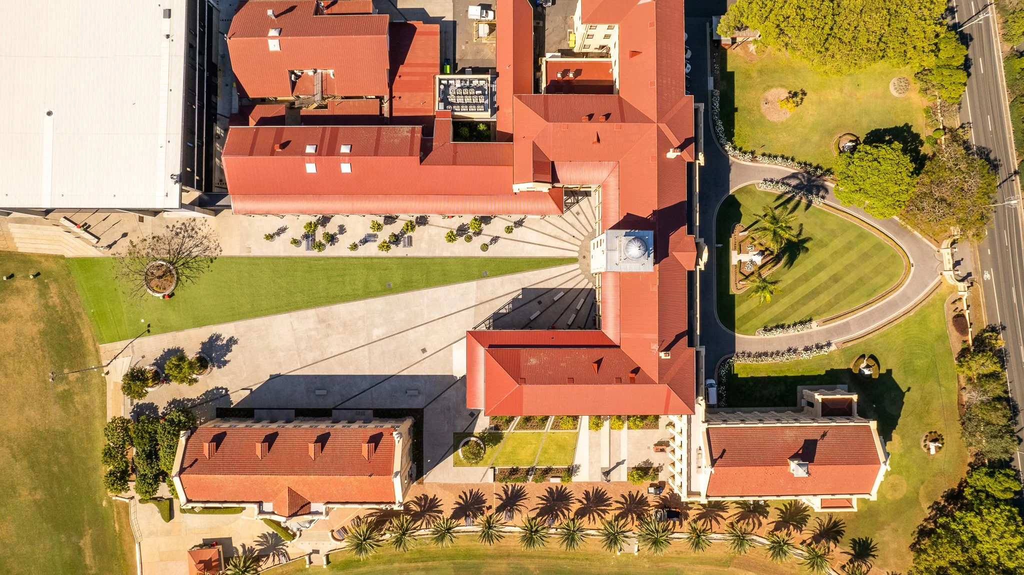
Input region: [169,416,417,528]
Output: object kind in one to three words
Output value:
building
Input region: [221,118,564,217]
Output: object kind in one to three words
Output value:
building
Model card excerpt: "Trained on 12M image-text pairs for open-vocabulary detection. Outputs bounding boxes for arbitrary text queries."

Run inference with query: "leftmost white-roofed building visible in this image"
[0,0,217,218]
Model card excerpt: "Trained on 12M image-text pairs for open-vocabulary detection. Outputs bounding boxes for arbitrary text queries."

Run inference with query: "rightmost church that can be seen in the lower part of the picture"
[696,385,895,513]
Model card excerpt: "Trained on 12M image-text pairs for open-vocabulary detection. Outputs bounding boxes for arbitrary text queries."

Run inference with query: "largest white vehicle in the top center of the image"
[467,5,494,20]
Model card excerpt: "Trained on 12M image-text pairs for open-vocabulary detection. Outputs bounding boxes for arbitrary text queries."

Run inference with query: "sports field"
[0,250,135,575]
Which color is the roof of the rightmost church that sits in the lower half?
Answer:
red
